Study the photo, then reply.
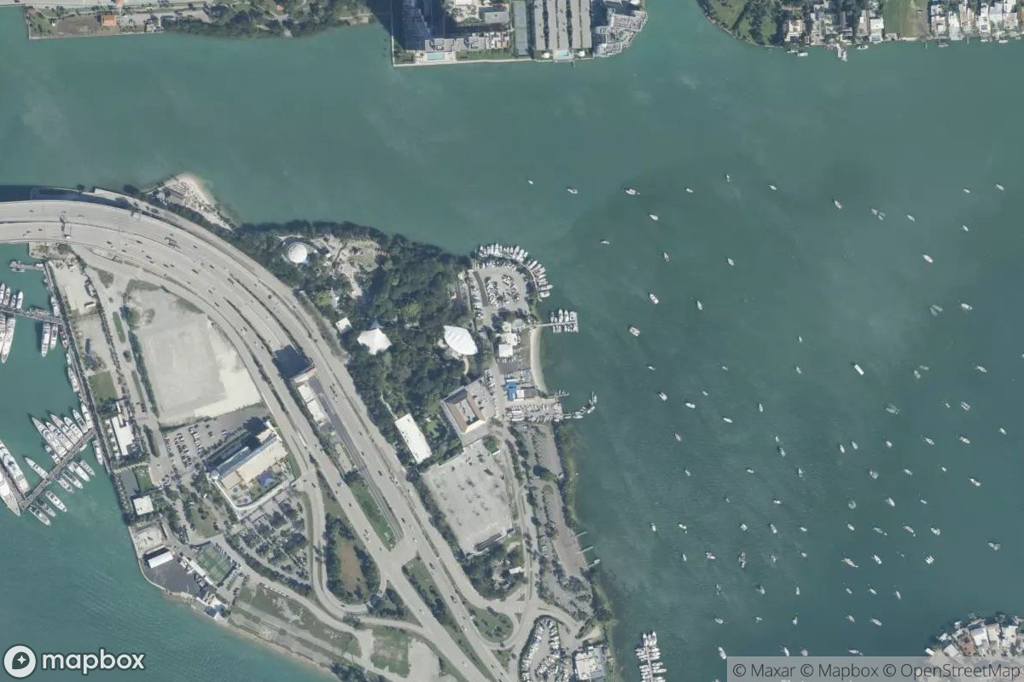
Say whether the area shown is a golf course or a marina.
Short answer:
marina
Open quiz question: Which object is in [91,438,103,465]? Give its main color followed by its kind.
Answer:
white boat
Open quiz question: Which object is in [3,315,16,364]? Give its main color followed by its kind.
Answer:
white boat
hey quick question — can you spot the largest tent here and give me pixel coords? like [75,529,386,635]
[358,328,392,355]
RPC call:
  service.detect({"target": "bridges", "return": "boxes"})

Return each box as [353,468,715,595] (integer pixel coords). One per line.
[0,200,176,279]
